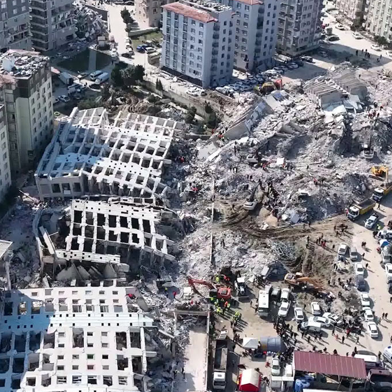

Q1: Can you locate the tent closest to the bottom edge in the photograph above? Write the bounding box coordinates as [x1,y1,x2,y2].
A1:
[238,366,260,392]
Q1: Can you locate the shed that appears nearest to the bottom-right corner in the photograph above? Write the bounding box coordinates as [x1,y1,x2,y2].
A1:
[293,350,367,392]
